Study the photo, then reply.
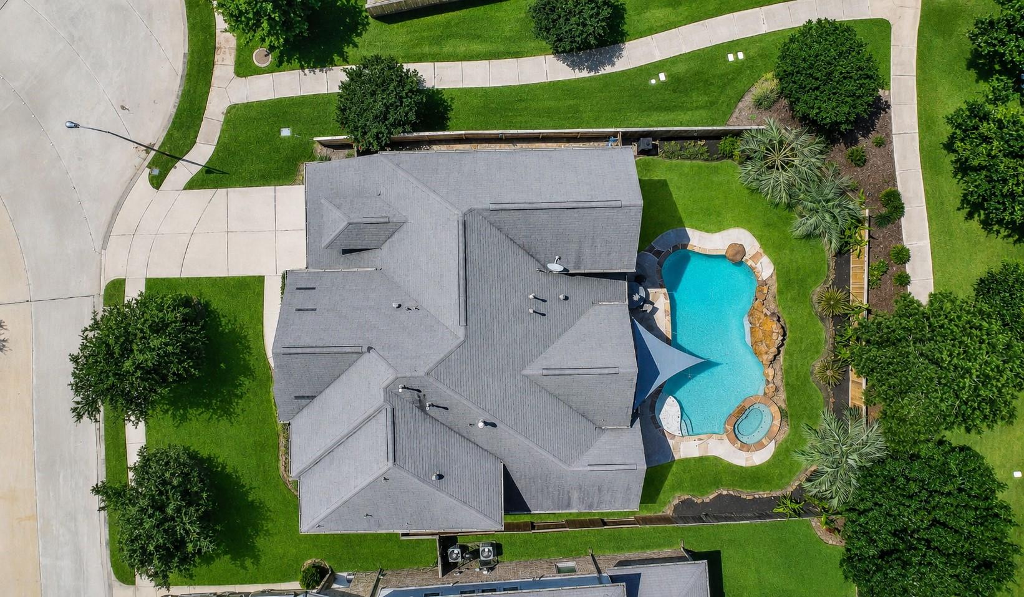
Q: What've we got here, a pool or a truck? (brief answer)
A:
pool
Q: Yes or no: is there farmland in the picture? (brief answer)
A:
No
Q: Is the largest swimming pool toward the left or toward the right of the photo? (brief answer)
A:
right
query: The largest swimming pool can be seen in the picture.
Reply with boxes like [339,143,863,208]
[648,242,766,443]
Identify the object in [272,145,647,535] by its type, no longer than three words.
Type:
house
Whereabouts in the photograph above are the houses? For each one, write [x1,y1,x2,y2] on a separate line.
[272,145,647,535]
[360,557,711,597]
